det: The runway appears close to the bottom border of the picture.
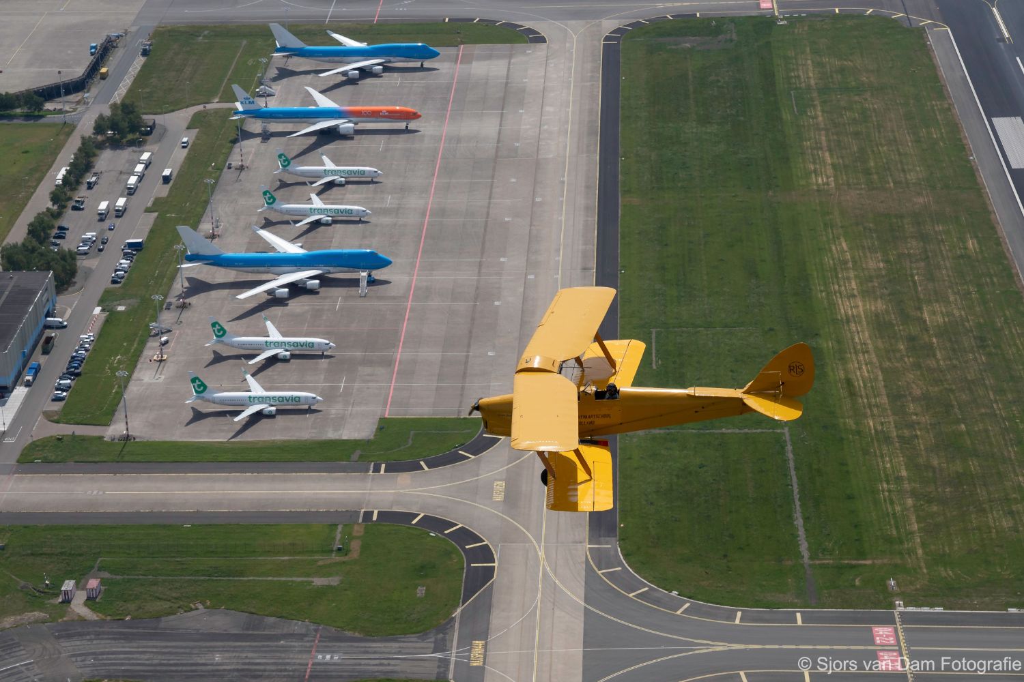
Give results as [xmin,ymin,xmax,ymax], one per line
[0,614,484,682]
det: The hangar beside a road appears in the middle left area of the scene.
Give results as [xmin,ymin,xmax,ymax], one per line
[0,266,56,392]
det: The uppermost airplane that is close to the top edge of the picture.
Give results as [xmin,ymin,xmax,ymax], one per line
[266,23,441,78]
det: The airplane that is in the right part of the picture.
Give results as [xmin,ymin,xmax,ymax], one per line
[470,282,815,511]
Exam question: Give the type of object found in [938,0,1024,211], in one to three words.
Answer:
runway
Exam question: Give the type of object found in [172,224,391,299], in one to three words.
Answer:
airplane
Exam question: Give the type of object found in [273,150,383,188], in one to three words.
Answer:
airplane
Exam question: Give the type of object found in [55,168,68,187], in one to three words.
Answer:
vehicle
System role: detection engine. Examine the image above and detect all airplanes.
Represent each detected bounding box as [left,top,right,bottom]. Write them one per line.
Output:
[258,187,372,228]
[172,224,391,299]
[227,84,423,138]
[470,282,815,511]
[266,23,441,78]
[273,150,383,188]
[206,315,336,365]
[186,367,323,422]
